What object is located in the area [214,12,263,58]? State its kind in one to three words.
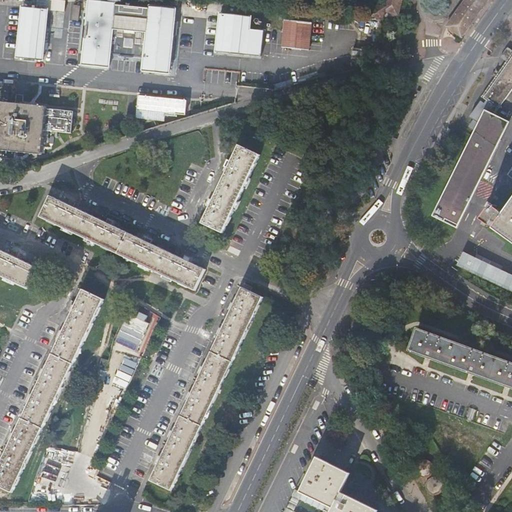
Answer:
building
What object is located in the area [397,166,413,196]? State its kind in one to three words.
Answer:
vehicle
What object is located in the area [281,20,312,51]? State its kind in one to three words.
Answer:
shed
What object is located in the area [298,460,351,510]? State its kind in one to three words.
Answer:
building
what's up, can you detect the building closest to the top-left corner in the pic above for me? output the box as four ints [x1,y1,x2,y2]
[14,6,50,62]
